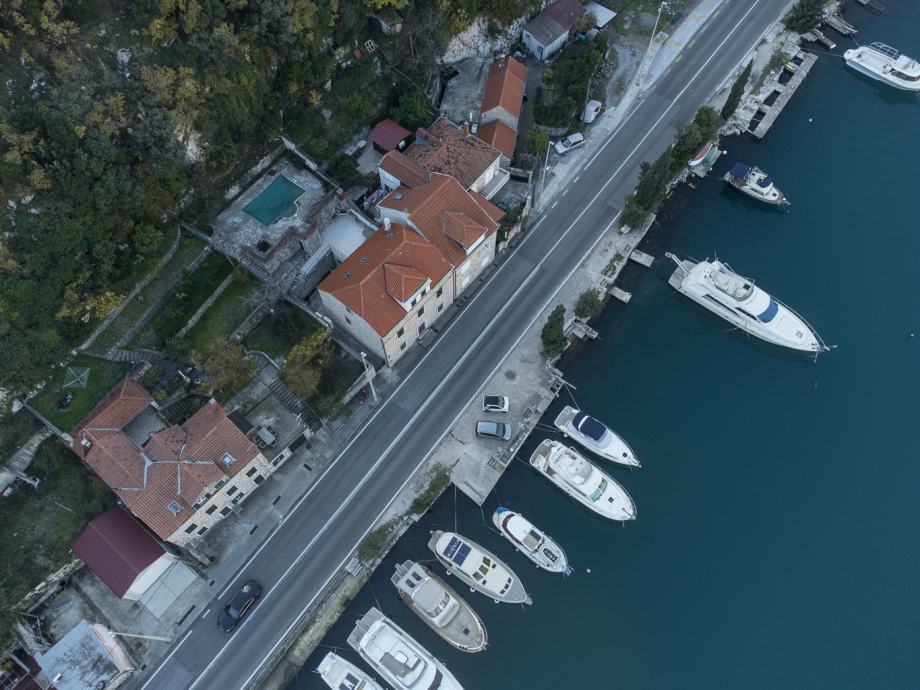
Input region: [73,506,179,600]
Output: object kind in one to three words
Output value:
building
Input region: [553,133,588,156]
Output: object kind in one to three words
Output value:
car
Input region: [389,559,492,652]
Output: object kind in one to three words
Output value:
boat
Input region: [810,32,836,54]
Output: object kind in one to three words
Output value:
pier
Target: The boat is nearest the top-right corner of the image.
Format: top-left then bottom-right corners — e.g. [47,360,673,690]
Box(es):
[841,48,920,103]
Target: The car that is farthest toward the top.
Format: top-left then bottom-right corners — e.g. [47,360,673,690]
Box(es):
[579,100,606,129]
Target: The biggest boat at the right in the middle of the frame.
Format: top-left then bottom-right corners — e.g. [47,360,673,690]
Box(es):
[666,244,826,361]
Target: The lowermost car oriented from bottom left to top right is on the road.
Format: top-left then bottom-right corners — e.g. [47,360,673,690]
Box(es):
[217,580,264,633]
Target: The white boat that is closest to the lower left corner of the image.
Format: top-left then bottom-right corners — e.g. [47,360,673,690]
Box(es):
[314,650,382,690]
